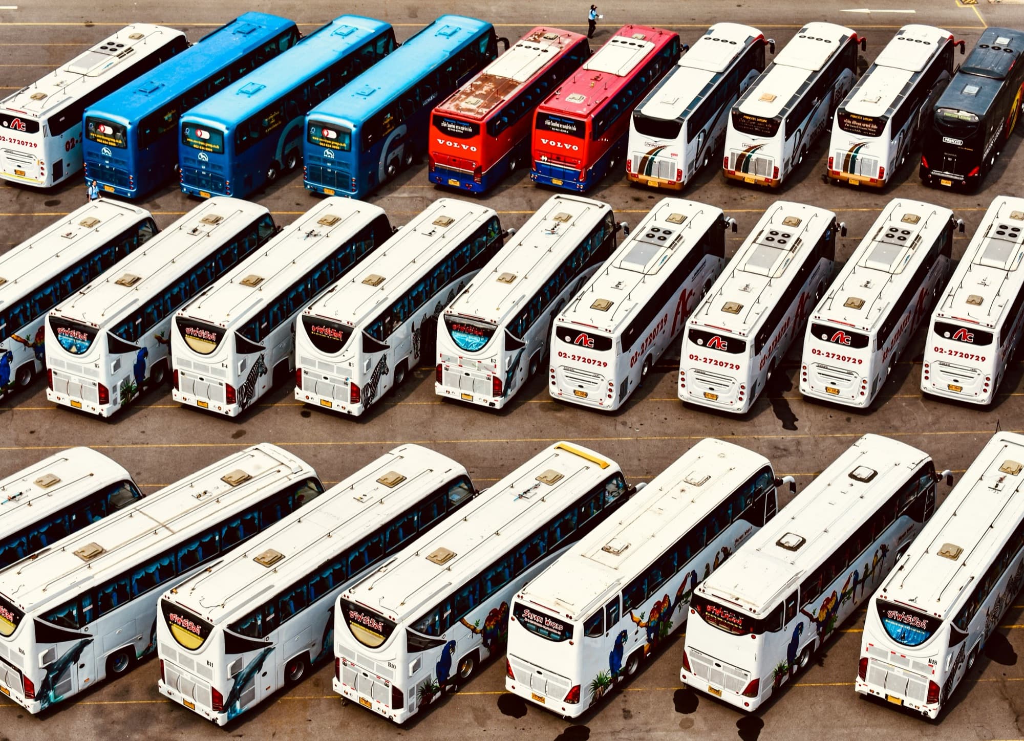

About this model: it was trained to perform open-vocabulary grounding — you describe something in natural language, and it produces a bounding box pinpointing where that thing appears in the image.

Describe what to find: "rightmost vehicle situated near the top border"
[919,20,1024,193]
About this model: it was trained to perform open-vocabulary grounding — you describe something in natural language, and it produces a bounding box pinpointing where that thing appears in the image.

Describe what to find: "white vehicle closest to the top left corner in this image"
[0,20,197,188]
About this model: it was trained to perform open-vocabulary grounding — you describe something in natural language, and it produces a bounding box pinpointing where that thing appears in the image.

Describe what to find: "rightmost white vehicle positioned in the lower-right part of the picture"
[854,411,1024,721]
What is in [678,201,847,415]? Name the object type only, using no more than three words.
bus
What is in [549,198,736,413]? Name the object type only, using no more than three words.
bus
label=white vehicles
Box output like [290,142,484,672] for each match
[171,196,398,418]
[45,195,286,418]
[722,23,868,186]
[678,201,847,415]
[295,197,513,417]
[854,411,1024,721]
[919,195,1024,406]
[625,24,773,191]
[0,20,197,188]
[0,447,153,570]
[549,198,736,413]
[0,443,327,714]
[798,198,964,410]
[826,25,965,187]
[680,433,952,709]
[434,193,627,412]
[332,442,640,727]
[0,200,160,400]
[503,437,794,719]
[157,444,486,727]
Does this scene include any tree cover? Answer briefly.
No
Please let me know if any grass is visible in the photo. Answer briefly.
No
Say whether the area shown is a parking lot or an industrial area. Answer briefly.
parking lot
